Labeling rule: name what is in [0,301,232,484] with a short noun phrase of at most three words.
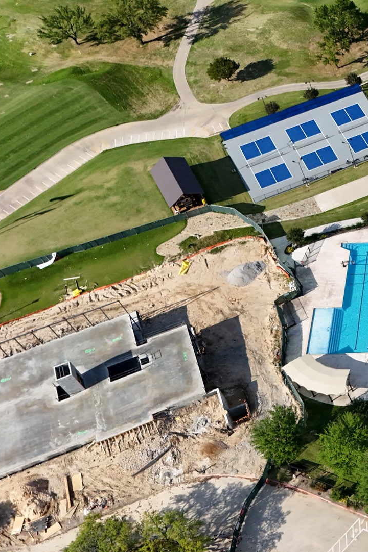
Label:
building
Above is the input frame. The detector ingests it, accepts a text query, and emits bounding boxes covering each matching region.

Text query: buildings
[0,301,232,484]
[151,156,206,212]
